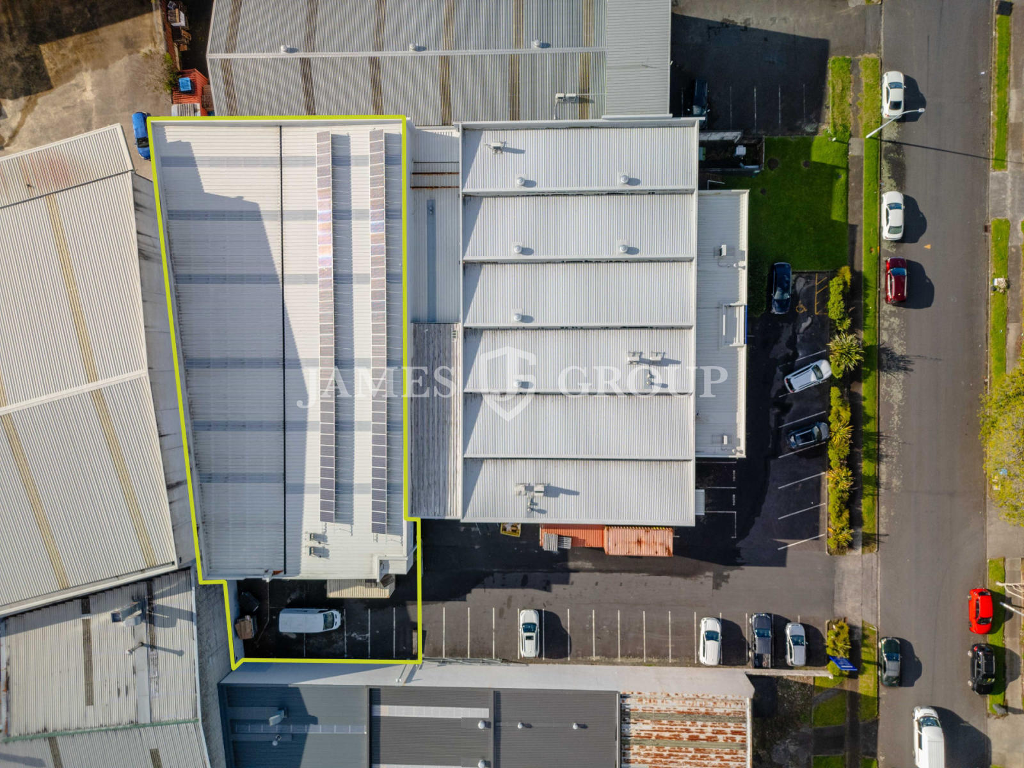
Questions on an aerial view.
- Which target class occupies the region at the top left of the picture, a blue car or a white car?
blue car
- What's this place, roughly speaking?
industrial area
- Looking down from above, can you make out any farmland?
No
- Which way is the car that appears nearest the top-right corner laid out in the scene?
up and down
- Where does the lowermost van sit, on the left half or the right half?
right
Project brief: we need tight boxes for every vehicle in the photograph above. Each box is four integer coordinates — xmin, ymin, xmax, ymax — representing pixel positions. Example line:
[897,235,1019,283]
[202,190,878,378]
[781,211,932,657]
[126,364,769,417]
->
[699,617,724,666]
[784,620,808,666]
[878,636,903,687]
[277,607,342,635]
[884,258,910,304]
[689,76,713,129]
[782,361,832,393]
[785,422,830,451]
[880,192,906,241]
[967,588,995,634]
[130,112,155,161]
[518,609,541,658]
[967,643,996,694]
[911,703,950,768]
[769,262,794,314]
[881,72,906,120]
[750,613,775,669]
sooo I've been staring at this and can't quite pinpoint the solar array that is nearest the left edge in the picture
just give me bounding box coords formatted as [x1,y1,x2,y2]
[317,130,347,533]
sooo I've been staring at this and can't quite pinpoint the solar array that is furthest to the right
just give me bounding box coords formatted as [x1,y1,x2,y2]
[370,128,398,543]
